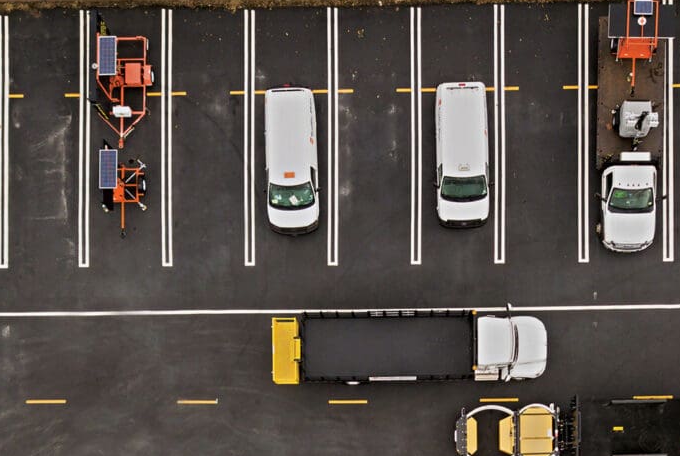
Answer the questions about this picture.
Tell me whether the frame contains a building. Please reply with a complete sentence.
No, I find no building anywhere in the image.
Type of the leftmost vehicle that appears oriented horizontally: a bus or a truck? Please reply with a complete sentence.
It looks like the leftmost vehicle that appears oriented horizontally is a truck.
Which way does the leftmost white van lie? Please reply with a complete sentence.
Seen from above, the leftmost white van lies up and down.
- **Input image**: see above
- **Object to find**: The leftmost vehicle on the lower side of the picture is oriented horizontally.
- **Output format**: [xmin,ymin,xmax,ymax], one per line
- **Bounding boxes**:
[273,303,547,384]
